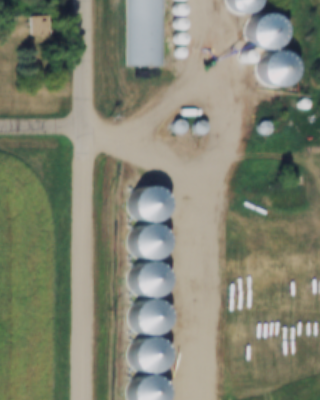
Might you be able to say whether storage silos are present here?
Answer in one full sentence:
Yes, there's a storage silo down there.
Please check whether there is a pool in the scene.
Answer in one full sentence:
No, no pool is visible in the view.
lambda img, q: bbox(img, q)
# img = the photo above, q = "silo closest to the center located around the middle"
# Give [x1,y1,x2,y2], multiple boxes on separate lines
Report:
[127,184,175,222]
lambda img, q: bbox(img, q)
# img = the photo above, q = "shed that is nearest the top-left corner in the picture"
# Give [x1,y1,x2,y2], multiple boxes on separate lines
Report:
[28,16,53,36]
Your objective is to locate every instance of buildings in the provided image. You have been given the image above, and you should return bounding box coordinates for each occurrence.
[28,16,53,36]
[122,0,164,66]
